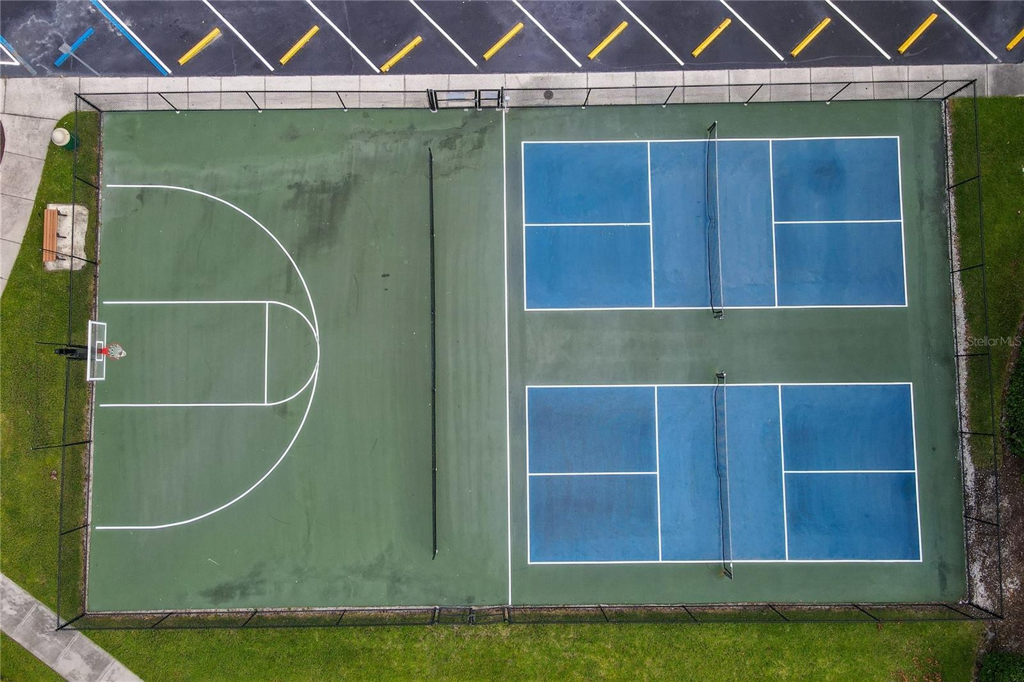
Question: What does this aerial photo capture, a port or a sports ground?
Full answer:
The picture captures a sports ground.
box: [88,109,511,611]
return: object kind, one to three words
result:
basketball court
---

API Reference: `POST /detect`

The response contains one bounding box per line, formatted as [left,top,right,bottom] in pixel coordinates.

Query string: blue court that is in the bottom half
[526,382,923,564]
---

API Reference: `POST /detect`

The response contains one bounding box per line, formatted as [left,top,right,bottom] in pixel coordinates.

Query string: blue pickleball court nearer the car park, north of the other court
[522,136,908,310]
